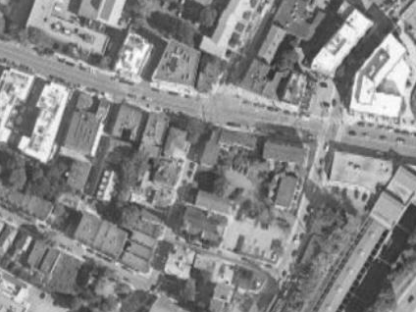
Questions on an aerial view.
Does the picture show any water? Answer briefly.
No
